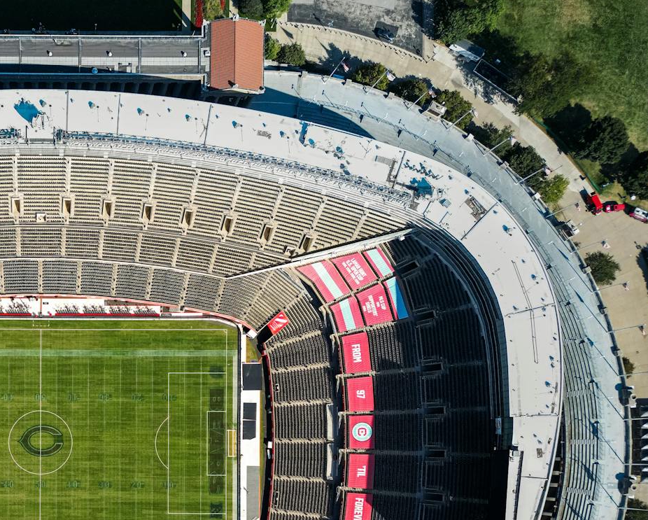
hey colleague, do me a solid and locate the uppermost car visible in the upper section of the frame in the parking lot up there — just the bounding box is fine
[377,27,393,40]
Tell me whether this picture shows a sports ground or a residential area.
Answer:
sports ground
